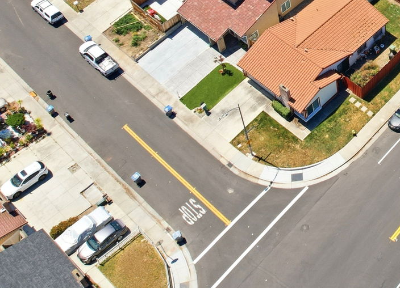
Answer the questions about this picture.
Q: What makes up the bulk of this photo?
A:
paved ground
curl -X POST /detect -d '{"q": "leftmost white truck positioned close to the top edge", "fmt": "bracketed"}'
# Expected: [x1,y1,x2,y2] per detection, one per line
[30,0,66,26]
